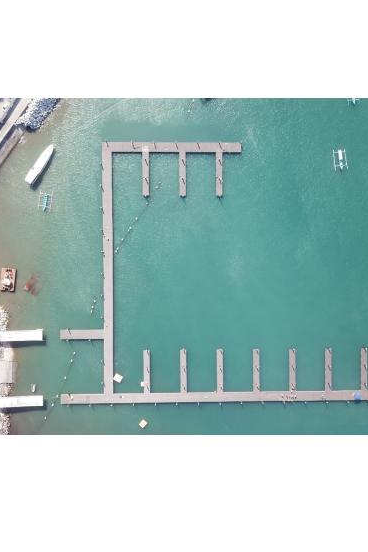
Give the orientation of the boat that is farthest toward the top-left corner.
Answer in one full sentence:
In this picture, the boat that is farthest toward the top-left corner is oriented on a diagonal.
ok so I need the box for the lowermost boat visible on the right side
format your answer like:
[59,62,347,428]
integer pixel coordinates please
[333,149,348,171]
